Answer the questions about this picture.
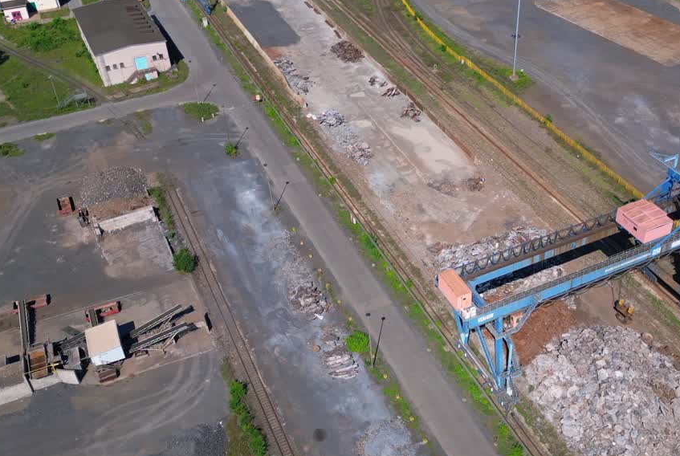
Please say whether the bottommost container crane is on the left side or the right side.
right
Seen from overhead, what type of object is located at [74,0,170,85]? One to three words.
building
